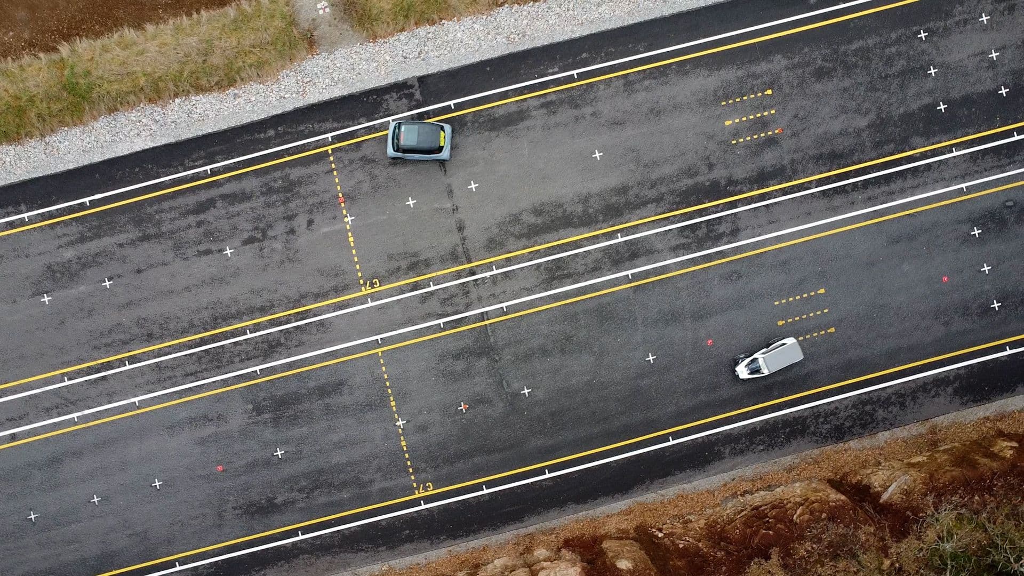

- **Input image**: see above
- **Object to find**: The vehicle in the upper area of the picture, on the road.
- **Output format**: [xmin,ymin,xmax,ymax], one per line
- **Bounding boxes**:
[387,120,452,161]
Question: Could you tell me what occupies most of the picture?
paved ground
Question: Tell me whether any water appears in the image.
No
